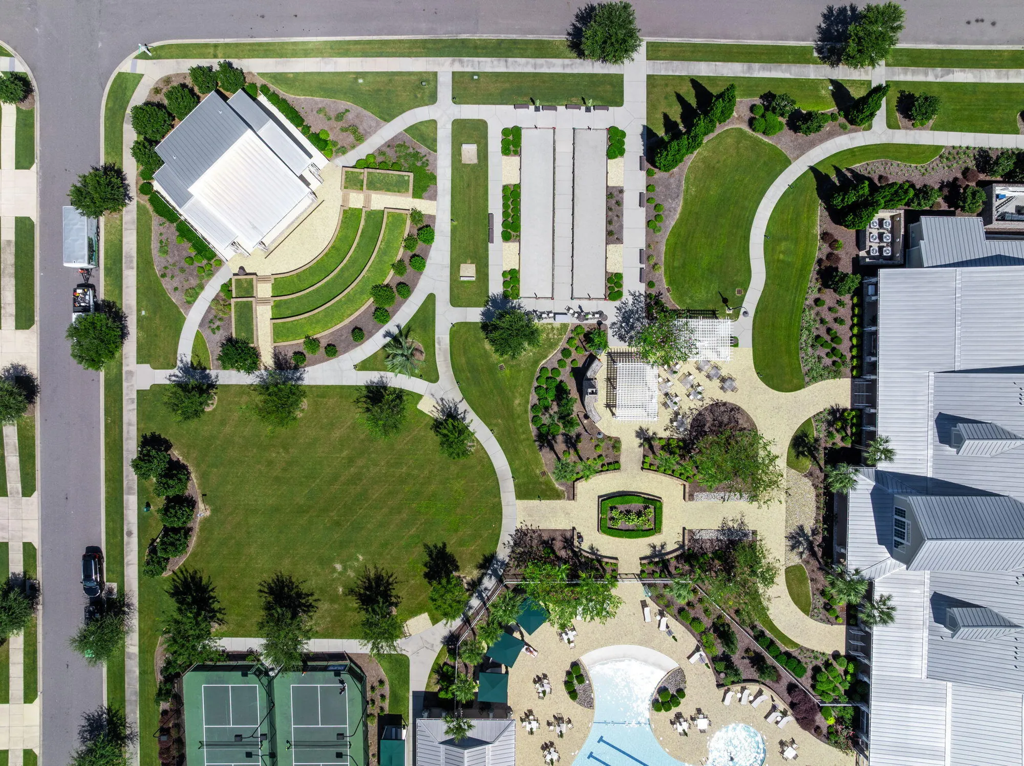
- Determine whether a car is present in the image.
Yes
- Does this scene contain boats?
No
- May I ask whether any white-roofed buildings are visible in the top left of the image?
Yes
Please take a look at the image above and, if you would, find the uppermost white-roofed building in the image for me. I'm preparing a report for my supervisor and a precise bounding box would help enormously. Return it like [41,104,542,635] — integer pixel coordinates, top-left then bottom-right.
[150,88,330,264]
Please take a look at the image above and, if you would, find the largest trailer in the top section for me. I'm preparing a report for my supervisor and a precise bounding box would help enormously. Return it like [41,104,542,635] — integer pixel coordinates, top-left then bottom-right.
[63,205,100,285]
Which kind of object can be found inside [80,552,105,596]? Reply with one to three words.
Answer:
car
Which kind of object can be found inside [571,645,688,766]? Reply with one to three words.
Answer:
swimming pool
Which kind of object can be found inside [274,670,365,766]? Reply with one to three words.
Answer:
sports court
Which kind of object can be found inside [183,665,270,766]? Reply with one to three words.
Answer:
sports court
